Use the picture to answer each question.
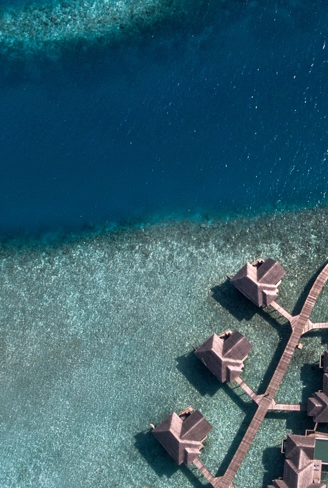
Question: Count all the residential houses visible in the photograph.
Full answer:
In total, 3 residential houses can be seen.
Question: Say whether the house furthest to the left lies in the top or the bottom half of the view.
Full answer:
The bottom half of the photo is where the house furthest to the left is.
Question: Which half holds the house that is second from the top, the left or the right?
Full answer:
The house that is second from the top is on the right side of the image.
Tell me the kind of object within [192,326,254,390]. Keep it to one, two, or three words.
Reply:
house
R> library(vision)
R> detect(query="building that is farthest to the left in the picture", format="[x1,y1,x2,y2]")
[152,404,214,472]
